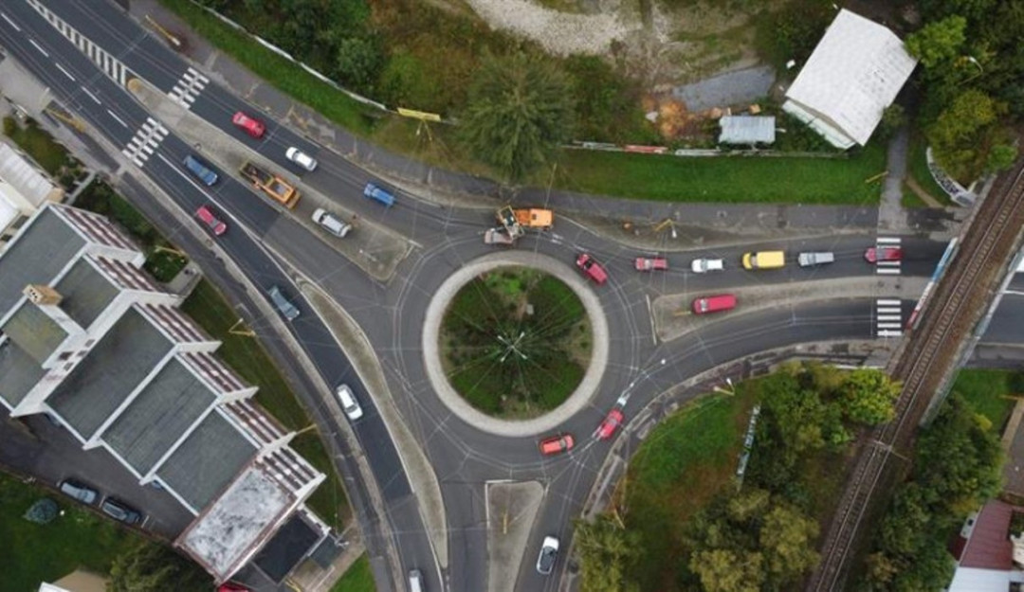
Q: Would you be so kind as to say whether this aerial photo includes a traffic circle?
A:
Yes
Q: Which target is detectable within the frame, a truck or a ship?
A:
truck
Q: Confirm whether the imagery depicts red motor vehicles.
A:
Yes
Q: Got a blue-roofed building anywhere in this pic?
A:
No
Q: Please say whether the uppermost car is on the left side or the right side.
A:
left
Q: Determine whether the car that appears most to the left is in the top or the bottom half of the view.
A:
bottom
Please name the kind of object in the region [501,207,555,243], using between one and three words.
truck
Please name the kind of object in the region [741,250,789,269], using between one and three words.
vehicle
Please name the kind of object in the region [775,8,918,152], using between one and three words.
house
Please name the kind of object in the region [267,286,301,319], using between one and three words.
car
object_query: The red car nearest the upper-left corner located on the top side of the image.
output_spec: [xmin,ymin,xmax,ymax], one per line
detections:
[233,113,266,139]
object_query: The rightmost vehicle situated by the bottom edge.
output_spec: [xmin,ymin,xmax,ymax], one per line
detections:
[536,536,558,577]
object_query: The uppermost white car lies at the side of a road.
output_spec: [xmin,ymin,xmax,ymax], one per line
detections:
[286,146,319,172]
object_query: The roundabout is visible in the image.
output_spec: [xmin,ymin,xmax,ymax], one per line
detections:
[424,251,607,435]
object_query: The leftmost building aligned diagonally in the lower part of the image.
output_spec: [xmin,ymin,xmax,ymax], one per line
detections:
[0,200,351,588]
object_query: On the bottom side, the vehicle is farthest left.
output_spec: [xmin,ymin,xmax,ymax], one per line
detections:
[58,479,100,503]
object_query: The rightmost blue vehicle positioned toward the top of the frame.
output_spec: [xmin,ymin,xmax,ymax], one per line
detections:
[364,184,396,206]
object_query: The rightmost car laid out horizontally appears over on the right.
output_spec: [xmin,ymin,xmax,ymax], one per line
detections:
[863,246,902,263]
